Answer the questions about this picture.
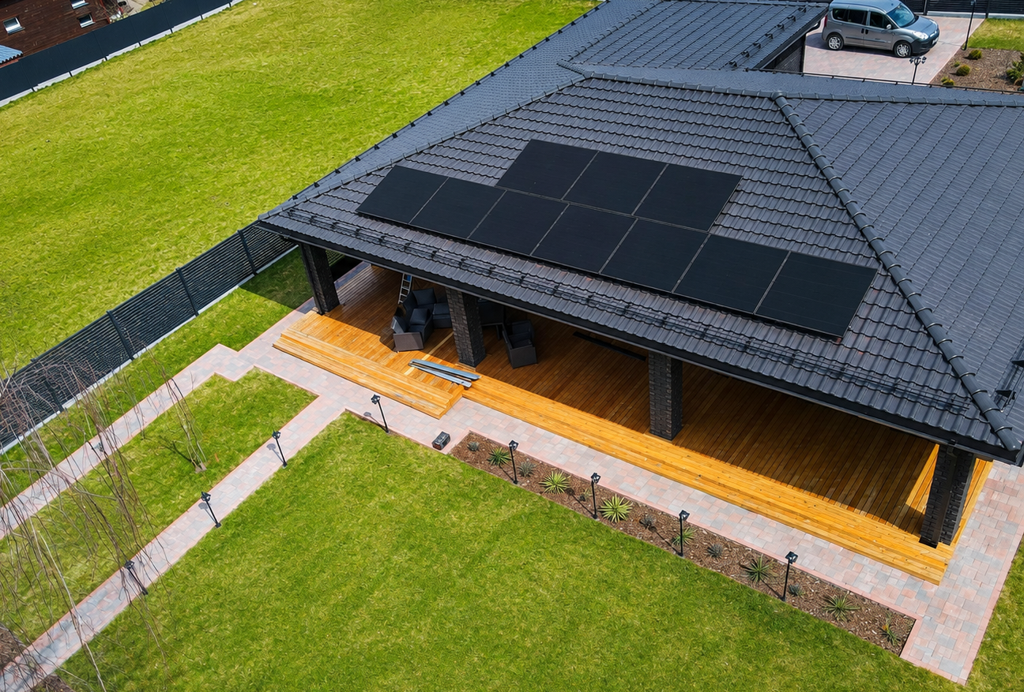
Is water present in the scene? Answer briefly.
No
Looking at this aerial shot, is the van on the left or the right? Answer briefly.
right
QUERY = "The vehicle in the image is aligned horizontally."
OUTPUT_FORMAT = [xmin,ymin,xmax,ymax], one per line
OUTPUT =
[816,0,942,56]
